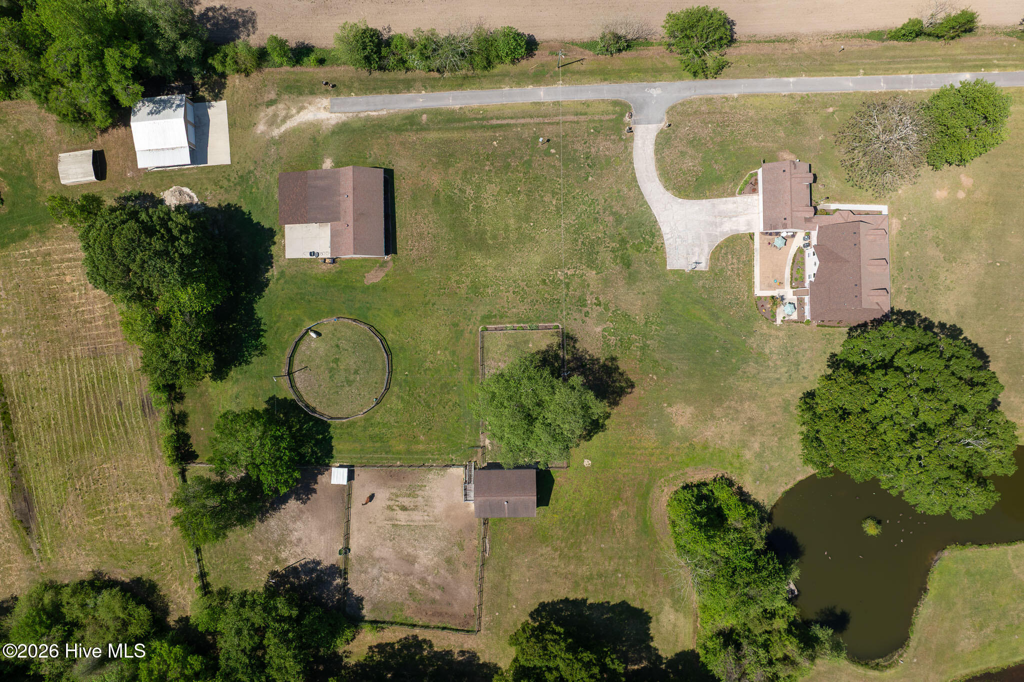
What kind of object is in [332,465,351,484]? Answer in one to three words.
shed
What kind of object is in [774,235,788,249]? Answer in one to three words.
umbrella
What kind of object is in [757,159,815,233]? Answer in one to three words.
building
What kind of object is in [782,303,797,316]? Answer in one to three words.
umbrella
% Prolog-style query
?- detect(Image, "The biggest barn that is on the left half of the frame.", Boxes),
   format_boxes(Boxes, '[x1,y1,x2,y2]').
[279,166,390,260]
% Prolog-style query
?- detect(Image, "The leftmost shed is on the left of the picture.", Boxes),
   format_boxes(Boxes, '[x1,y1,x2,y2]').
[58,149,101,186]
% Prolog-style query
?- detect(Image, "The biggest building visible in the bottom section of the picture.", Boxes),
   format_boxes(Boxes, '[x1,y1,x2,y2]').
[474,467,536,519]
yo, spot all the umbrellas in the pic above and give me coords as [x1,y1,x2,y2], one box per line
[774,235,788,249]
[782,303,797,316]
